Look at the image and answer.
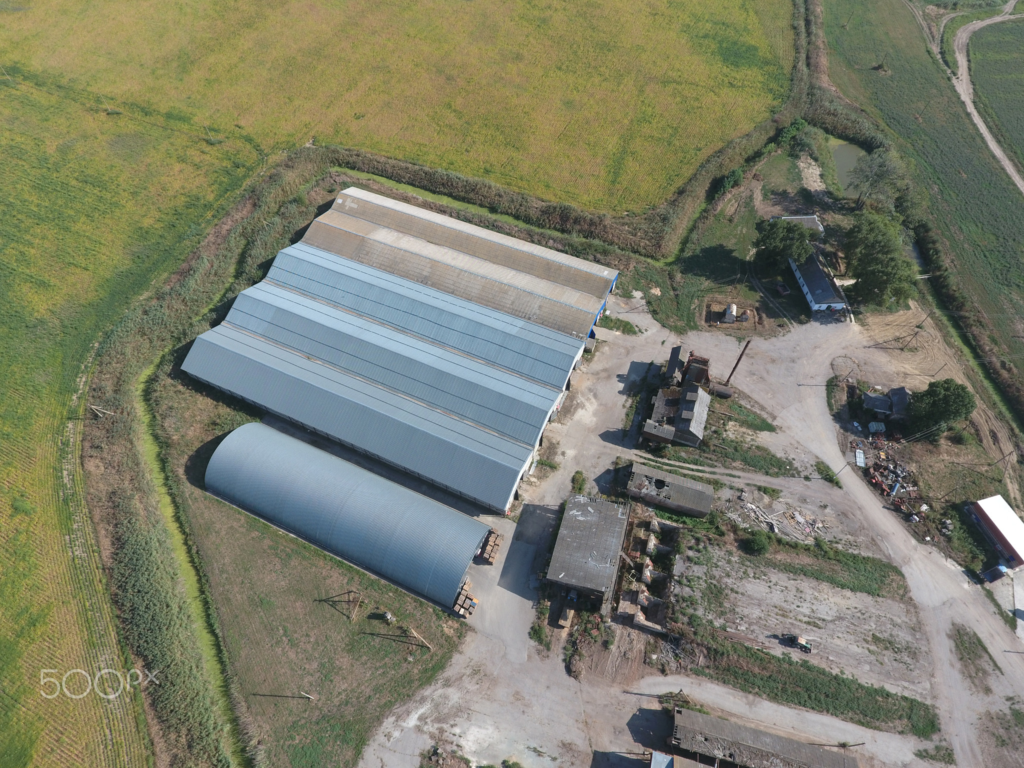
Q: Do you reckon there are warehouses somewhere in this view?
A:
Yes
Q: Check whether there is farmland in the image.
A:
Yes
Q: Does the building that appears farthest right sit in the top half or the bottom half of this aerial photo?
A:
bottom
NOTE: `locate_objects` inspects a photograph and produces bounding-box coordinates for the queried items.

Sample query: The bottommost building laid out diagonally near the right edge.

[968,495,1024,567]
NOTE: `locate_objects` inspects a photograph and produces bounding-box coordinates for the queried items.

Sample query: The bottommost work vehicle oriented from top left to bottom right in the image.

[782,631,814,655]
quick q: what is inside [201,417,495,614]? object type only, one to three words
hangar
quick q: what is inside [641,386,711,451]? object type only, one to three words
building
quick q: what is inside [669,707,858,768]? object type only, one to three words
shed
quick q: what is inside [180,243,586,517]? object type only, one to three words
warehouse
